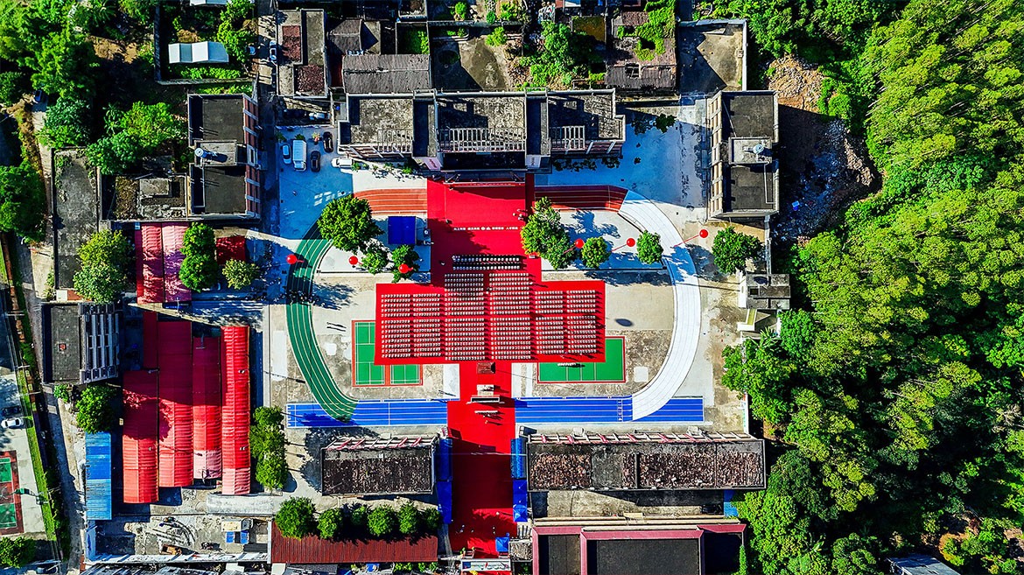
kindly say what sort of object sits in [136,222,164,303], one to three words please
shed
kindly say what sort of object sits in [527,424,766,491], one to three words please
building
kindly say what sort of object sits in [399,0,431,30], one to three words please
house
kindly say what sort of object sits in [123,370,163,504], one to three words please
shed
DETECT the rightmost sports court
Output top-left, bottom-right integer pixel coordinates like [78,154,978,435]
[537,336,626,383]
